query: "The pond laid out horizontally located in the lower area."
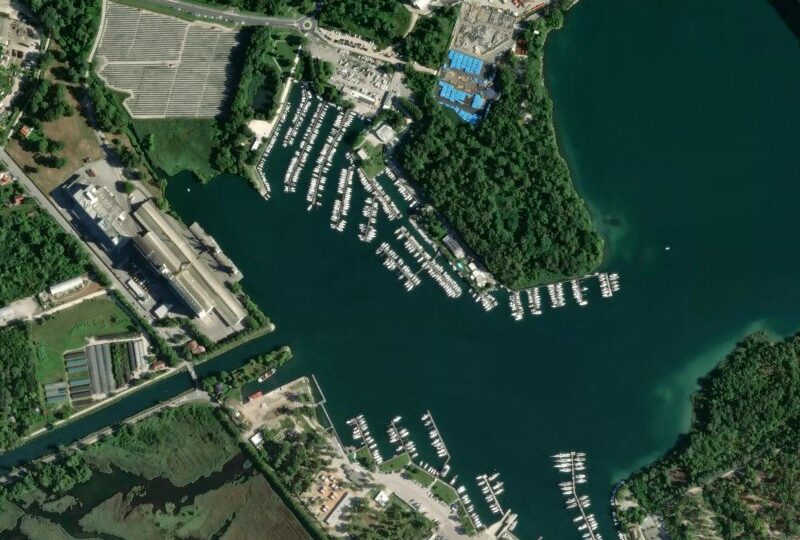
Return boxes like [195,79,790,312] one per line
[0,452,255,540]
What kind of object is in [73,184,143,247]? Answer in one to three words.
building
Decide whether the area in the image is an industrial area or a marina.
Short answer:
marina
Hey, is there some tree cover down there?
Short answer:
Yes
